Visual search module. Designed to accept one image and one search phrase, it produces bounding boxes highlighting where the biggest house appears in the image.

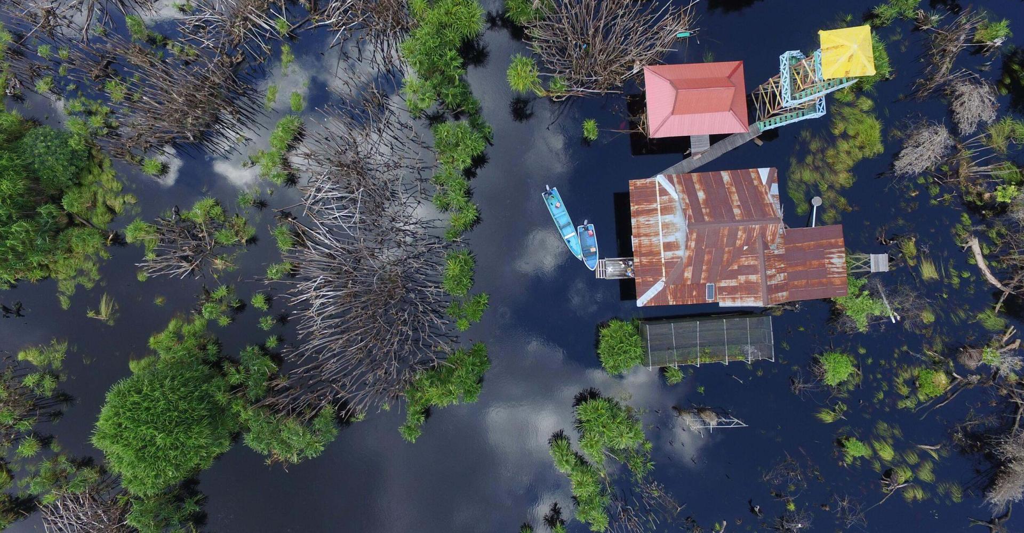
[628,166,848,307]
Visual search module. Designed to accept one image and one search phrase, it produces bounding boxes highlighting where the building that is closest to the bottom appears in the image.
[642,314,774,371]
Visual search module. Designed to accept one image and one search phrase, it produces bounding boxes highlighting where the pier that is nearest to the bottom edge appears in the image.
[596,256,635,280]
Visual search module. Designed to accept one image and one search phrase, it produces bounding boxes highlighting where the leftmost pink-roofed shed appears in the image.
[642,59,750,142]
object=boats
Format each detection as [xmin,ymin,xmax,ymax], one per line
[542,184,582,261]
[577,218,598,270]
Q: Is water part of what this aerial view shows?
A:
Yes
